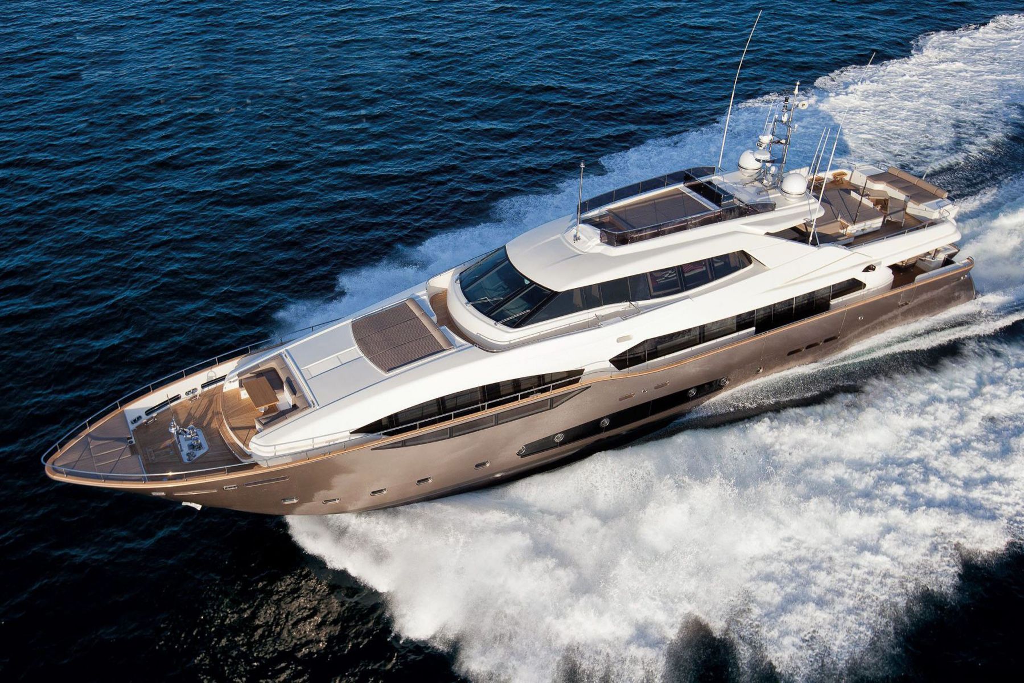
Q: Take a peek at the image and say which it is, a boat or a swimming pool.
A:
boat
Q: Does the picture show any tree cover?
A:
No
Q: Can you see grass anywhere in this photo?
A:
No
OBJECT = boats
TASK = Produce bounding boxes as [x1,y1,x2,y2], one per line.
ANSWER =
[43,11,975,516]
